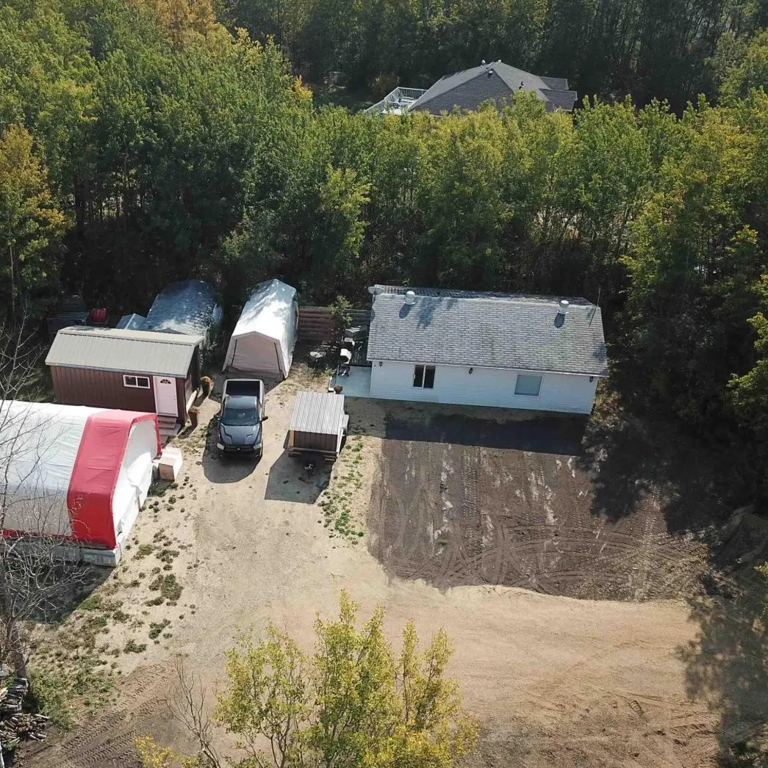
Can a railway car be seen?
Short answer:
No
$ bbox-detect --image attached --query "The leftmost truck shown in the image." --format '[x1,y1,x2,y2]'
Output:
[211,375,267,459]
